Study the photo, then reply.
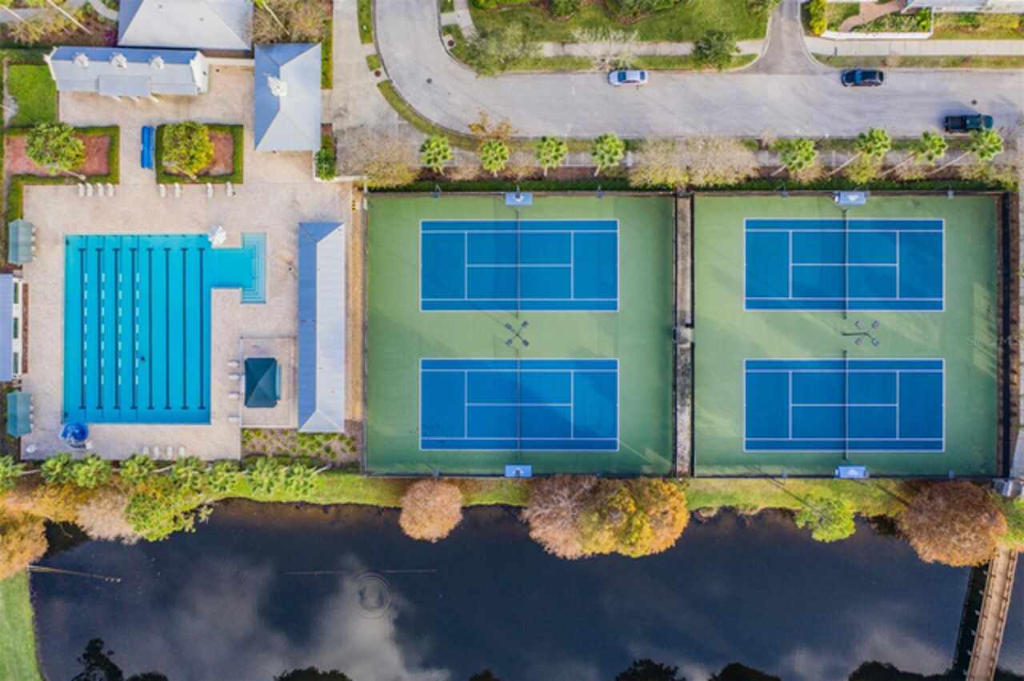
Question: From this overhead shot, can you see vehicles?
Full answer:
Yes, there's a vehicle here.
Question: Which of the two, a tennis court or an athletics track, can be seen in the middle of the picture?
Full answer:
Looking in the middle of the picture, you will find a tennis court.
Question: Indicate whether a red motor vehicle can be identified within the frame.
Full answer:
No, no red motor vehicle is visible in the view.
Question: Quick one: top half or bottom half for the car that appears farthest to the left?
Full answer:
The car that appears farthest to the left is in the top half of the image.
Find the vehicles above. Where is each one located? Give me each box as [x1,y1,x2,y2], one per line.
[843,64,886,86]
[946,111,996,132]
[609,65,648,85]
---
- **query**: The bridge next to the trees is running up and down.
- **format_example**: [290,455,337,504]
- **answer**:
[951,536,1022,681]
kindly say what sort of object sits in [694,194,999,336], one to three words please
tennis court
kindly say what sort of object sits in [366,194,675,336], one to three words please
tennis court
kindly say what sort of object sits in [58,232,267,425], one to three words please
swimming pool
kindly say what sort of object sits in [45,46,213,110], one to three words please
building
